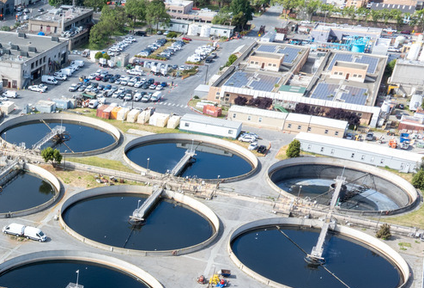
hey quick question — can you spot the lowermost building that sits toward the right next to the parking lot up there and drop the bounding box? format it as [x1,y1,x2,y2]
[209,40,388,125]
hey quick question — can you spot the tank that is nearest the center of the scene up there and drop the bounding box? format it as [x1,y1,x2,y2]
[123,134,259,186]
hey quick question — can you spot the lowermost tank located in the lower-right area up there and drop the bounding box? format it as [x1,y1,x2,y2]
[227,211,411,288]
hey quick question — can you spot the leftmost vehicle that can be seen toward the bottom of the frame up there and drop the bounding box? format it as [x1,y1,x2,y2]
[4,222,27,237]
